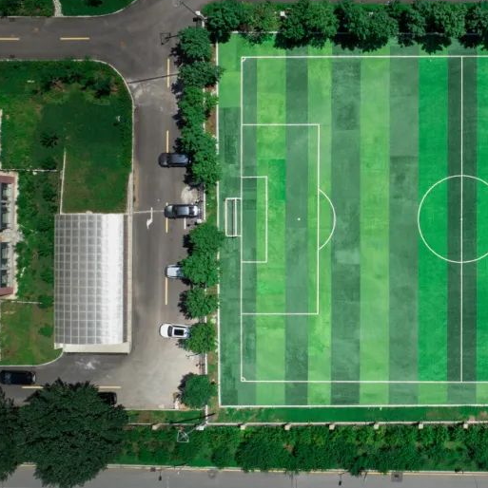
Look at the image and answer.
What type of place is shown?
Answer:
sports ground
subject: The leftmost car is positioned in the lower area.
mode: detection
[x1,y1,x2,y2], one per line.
[0,370,37,387]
